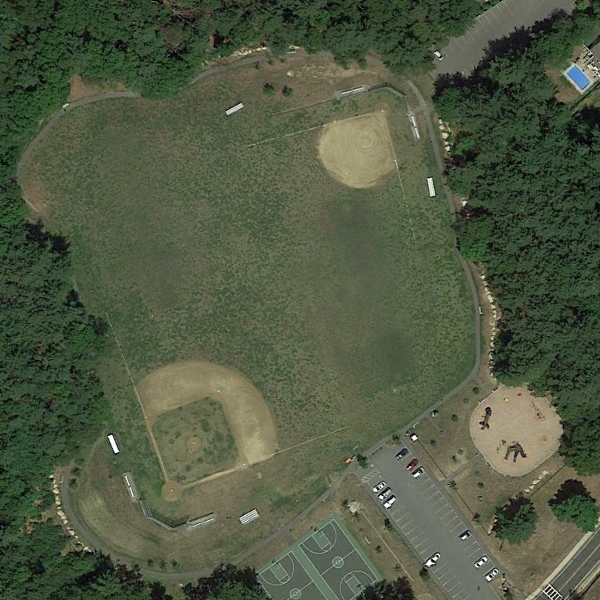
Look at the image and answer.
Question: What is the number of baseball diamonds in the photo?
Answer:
2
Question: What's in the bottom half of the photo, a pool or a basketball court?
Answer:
basketball court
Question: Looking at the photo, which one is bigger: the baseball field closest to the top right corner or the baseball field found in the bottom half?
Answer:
the baseball field found in the bottom half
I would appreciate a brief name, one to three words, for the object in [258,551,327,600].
basketball court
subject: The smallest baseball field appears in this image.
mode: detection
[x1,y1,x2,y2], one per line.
[245,107,414,238]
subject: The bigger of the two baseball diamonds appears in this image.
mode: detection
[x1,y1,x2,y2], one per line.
[107,314,344,502]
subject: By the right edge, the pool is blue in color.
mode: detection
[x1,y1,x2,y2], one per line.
[562,62,594,93]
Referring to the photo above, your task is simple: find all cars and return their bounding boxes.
[486,570,499,580]
[412,468,425,479]
[405,460,418,471]
[475,557,488,568]
[373,482,386,492]
[432,50,445,61]
[379,489,391,500]
[396,449,408,460]
[459,531,471,541]
[384,496,397,507]
[425,553,441,565]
